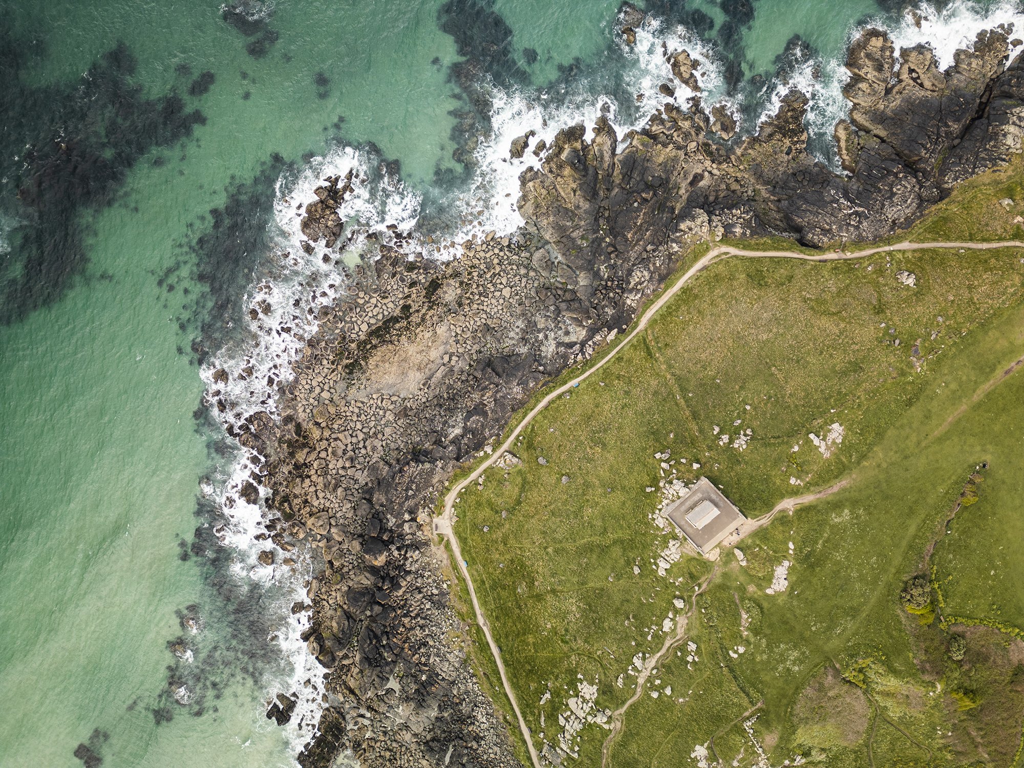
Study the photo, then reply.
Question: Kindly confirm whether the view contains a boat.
No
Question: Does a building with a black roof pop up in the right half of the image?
No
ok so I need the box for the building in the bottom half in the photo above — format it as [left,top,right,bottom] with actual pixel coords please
[661,474,746,557]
